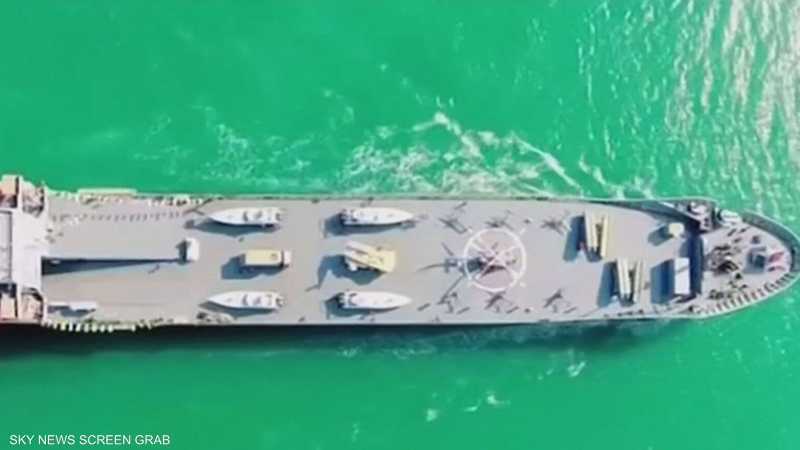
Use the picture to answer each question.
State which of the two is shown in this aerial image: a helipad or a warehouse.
helipad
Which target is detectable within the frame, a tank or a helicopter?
helicopter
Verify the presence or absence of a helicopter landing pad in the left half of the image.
No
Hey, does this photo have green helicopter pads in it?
No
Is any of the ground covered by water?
Yes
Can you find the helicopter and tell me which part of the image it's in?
center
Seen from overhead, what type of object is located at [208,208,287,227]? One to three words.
boat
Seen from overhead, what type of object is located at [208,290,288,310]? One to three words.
boat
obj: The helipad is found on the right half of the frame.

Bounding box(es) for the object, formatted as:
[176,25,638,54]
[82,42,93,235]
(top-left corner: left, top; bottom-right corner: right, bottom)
[463,229,527,291]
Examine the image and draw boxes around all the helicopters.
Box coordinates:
[437,227,527,289]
